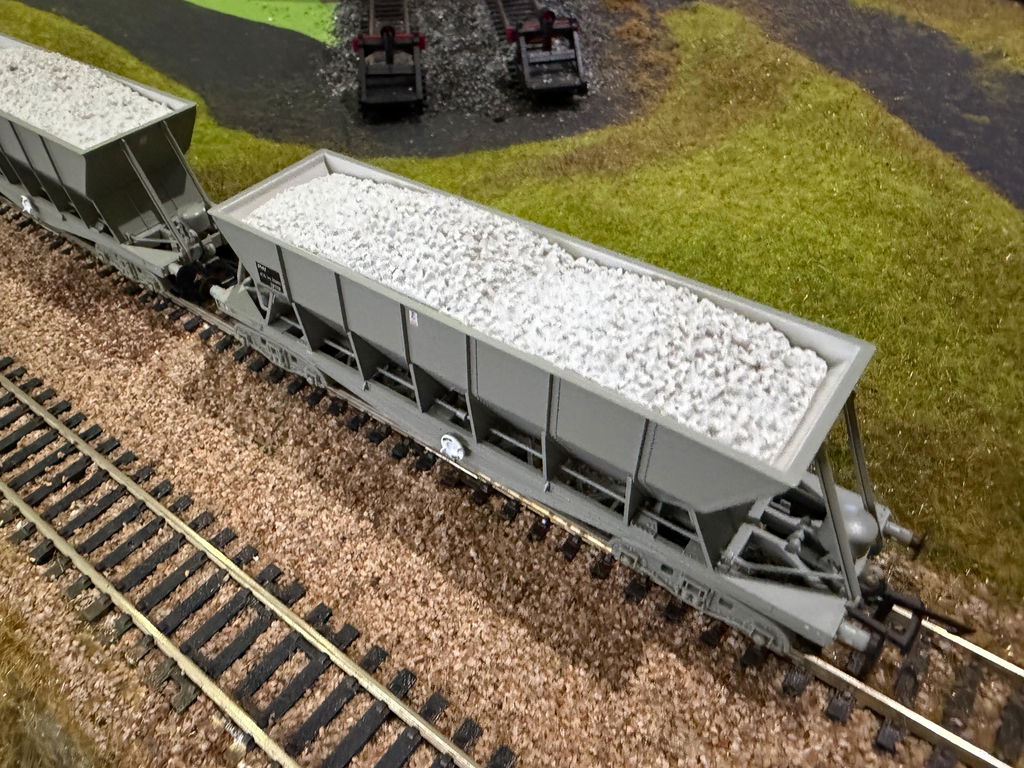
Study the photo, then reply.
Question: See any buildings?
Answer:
No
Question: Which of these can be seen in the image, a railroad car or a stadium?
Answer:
railroad car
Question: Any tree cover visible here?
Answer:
No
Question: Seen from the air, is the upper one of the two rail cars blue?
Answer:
No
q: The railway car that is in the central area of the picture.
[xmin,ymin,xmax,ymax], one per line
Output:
[207,151,980,669]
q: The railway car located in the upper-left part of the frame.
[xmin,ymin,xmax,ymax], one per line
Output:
[0,27,245,301]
